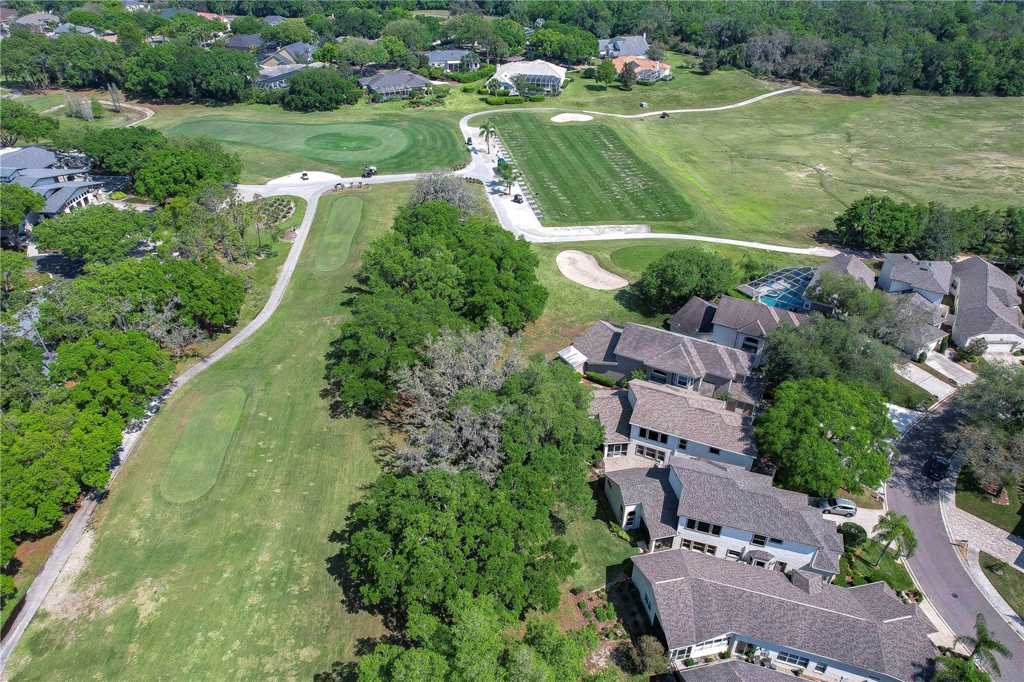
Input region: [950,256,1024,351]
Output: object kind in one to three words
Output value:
house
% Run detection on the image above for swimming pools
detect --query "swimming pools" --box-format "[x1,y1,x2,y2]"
[760,281,809,310]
